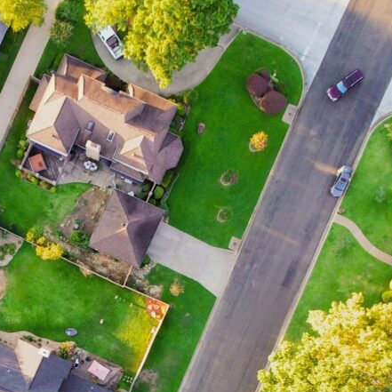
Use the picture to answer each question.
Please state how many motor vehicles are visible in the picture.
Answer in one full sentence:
In total, there are 3 motor vehicles in the scene.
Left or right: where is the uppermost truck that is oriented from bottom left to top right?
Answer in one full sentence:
The uppermost truck that is oriented from bottom left to top right is on the right side of the image.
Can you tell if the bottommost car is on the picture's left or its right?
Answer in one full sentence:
The bottommost car sits on the right side.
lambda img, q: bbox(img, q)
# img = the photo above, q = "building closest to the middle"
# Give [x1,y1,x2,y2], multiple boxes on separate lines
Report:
[88,188,166,268]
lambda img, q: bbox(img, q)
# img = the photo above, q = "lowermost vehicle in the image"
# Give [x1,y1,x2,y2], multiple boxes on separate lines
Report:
[329,164,354,199]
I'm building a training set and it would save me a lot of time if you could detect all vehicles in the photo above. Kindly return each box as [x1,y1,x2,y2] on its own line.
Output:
[329,164,354,199]
[326,68,365,101]
[96,24,125,63]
